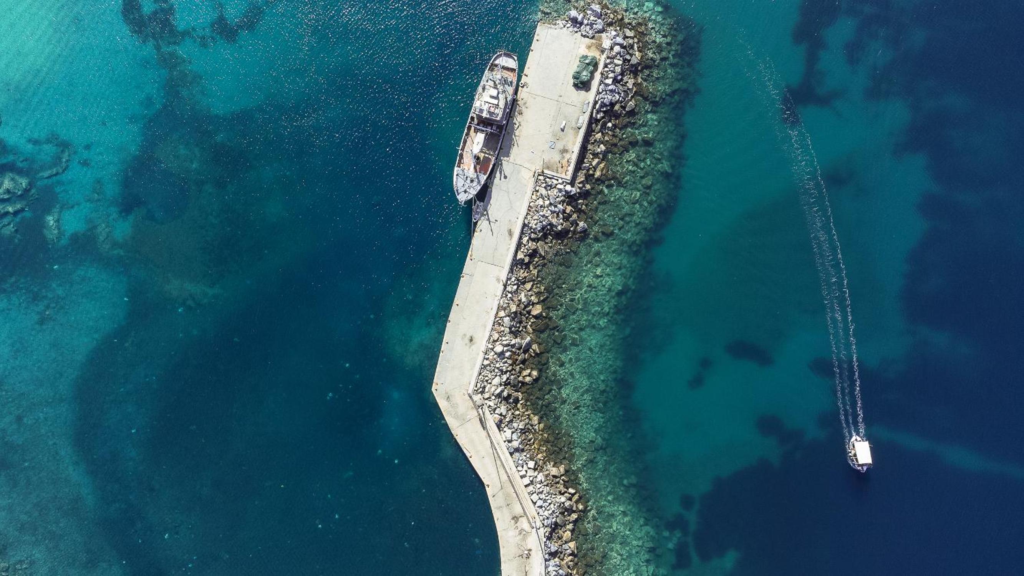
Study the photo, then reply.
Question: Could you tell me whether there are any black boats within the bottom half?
No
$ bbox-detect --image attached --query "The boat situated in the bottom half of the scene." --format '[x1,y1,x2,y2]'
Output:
[848,434,873,474]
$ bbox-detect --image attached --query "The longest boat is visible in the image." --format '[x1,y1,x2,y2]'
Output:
[454,46,518,208]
